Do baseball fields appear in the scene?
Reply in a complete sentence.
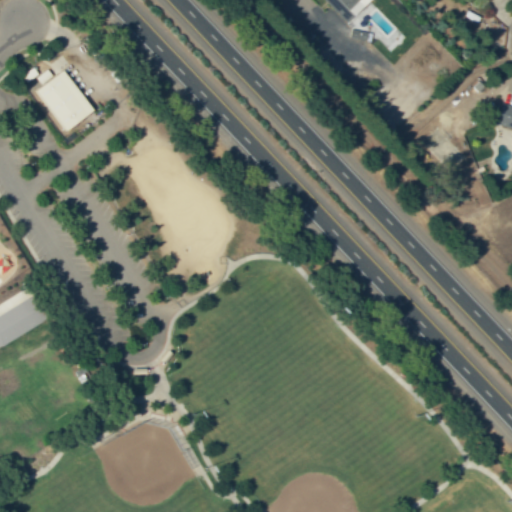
Yes, the image includes a baseball field.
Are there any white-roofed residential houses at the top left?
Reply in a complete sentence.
Yes, looking at the top left, one can make out a white-roofed residential house.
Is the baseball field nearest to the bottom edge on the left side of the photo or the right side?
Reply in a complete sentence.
It is on the left.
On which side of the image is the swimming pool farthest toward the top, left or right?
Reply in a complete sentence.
The swimming pool farthest toward the top appears in the right half of the scene.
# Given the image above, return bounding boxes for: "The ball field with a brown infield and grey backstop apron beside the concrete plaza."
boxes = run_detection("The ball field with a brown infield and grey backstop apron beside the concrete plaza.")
[0,416,245,512]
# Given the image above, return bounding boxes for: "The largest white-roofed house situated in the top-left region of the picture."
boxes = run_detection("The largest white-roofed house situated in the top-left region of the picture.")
[35,71,95,132]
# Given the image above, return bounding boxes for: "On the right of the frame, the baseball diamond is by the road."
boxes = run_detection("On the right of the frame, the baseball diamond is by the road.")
[164,258,464,512]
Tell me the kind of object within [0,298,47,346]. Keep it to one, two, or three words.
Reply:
building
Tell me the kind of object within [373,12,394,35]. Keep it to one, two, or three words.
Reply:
swimming pool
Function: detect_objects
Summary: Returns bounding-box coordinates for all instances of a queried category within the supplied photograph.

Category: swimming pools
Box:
[495,144,512,171]
[373,12,394,35]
